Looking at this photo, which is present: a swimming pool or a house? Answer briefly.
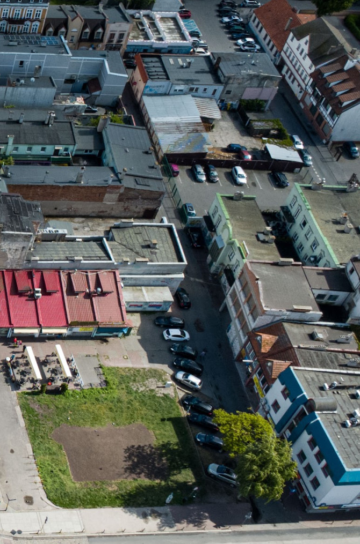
house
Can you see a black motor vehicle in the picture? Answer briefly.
Yes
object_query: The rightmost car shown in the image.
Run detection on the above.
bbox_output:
[343,139,360,157]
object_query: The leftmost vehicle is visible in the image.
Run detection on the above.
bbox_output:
[85,103,103,116]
